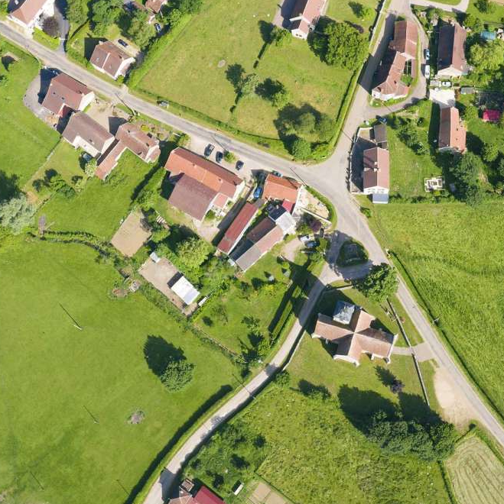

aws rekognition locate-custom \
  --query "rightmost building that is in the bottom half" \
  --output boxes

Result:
[313,301,395,369]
